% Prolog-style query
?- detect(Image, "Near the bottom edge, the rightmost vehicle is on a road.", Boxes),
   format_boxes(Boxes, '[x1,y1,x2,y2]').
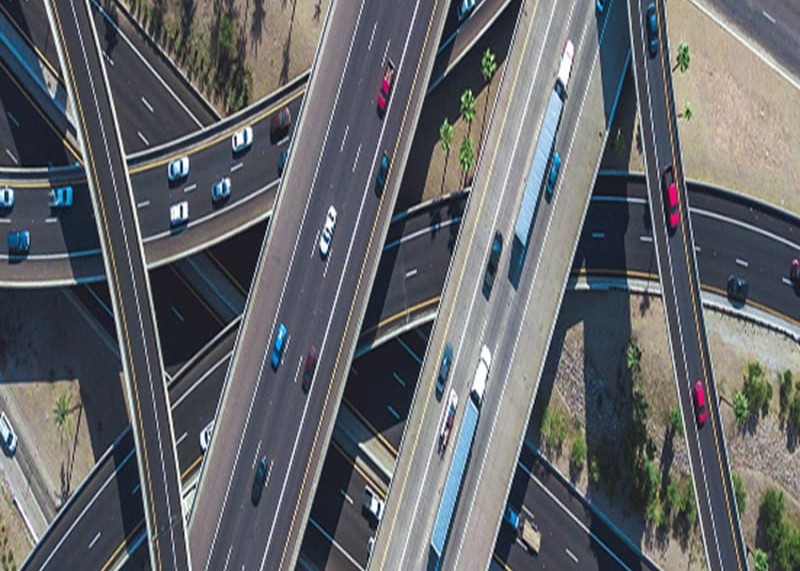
[504,501,538,551]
